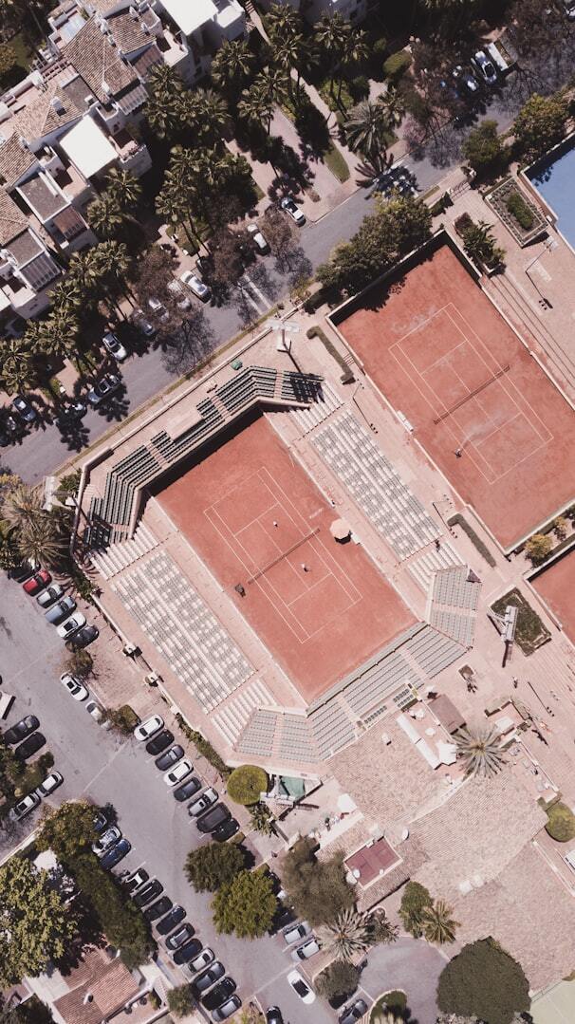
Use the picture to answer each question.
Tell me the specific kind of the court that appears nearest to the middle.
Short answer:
tennis court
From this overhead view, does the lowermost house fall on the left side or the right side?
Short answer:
left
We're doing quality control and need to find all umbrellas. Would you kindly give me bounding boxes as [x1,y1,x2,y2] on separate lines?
[424,682,435,693]
[415,707,425,718]
[424,724,434,736]
[330,519,350,539]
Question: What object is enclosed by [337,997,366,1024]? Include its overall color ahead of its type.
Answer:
gray car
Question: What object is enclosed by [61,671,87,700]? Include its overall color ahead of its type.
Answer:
white car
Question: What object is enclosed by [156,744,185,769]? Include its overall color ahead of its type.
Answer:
gray car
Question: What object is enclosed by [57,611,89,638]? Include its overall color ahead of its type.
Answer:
white car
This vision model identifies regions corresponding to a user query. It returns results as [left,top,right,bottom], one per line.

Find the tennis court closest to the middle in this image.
[146,407,417,703]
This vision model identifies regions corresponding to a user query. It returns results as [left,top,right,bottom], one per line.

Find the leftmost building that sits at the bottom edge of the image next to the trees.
[21,937,179,1024]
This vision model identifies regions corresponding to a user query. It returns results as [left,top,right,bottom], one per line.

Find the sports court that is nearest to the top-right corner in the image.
[528,143,575,236]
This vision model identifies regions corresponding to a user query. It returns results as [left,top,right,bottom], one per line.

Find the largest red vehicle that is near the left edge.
[23,570,53,594]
